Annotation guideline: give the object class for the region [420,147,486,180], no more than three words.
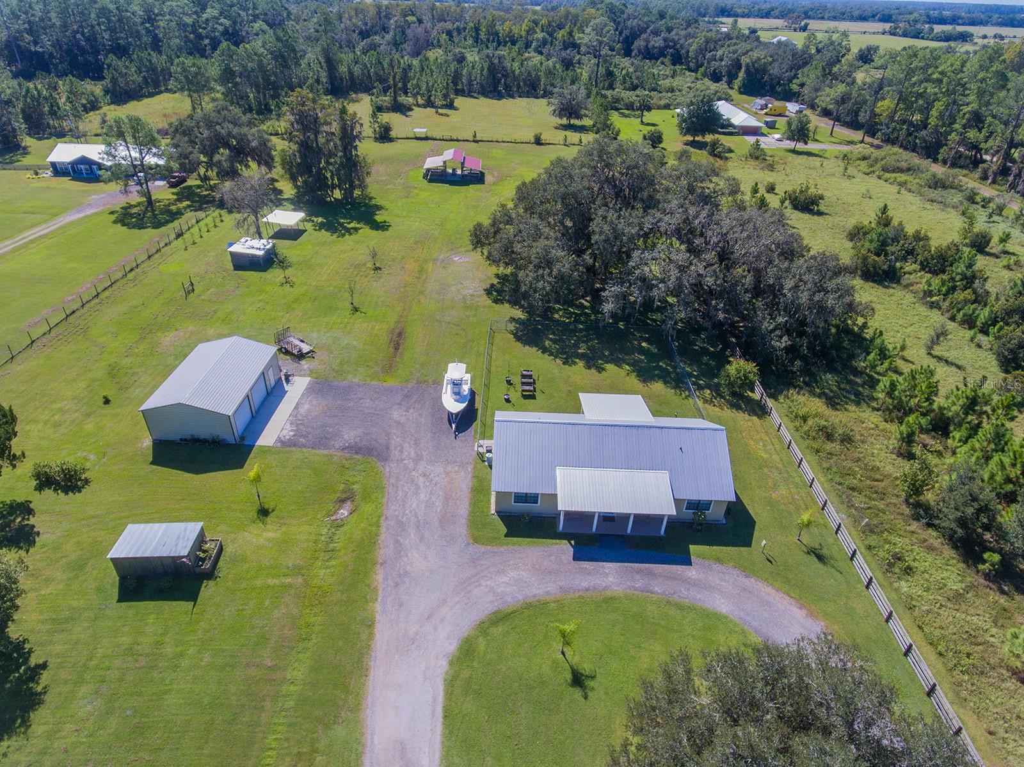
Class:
building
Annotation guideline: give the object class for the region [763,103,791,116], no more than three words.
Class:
vehicle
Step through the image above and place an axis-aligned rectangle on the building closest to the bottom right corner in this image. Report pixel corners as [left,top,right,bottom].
[490,393,739,540]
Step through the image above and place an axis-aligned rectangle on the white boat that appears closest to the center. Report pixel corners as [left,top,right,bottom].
[444,365,472,413]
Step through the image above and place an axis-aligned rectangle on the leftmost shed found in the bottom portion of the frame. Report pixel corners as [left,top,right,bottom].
[107,523,205,576]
